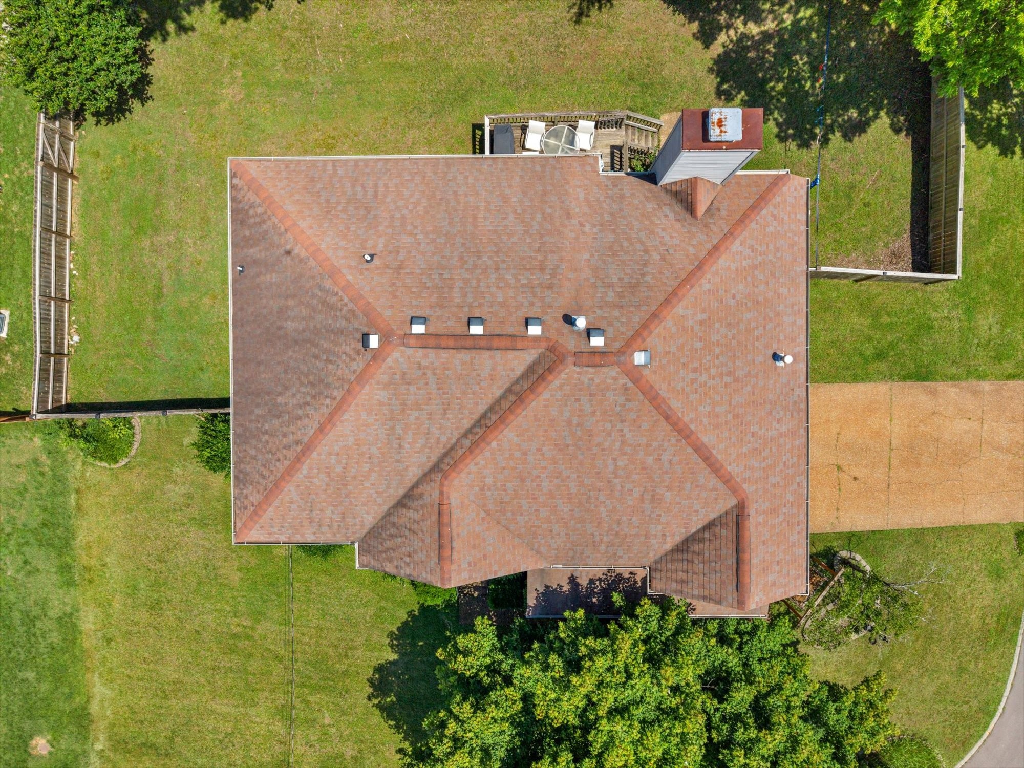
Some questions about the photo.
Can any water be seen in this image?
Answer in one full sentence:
No, there is no water in the image.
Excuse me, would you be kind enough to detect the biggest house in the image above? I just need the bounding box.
[227,106,813,620]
